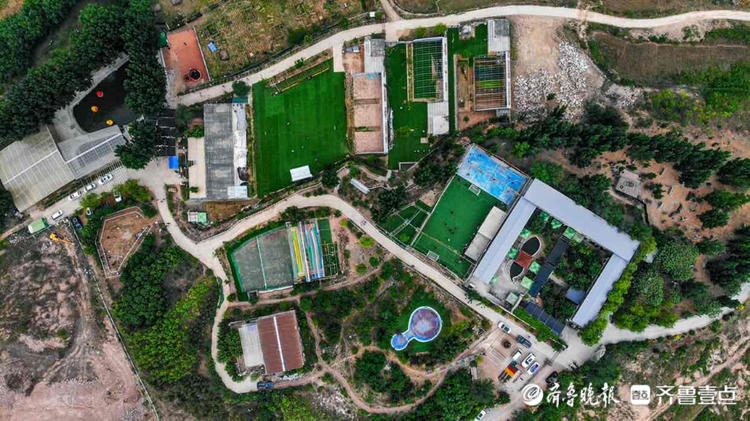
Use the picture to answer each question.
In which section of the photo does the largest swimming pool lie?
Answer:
bottom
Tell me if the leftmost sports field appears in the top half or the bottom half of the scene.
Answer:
top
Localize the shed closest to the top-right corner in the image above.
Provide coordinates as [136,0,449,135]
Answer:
[612,171,639,198]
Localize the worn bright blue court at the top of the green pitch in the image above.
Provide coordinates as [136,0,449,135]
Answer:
[457,144,527,204]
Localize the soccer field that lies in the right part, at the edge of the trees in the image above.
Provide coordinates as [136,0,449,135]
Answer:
[412,175,509,278]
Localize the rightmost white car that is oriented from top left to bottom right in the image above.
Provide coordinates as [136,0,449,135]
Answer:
[497,320,513,333]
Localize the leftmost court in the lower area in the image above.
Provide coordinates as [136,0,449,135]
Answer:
[232,228,294,293]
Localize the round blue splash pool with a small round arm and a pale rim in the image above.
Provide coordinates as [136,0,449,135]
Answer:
[391,308,442,351]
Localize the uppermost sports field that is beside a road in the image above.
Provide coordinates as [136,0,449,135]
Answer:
[252,59,350,197]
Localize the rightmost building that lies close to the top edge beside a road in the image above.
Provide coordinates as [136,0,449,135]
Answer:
[486,20,510,53]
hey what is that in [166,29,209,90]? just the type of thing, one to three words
sports court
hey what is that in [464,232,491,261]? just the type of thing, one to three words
shed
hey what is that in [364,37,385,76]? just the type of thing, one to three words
house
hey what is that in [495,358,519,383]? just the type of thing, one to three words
truck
